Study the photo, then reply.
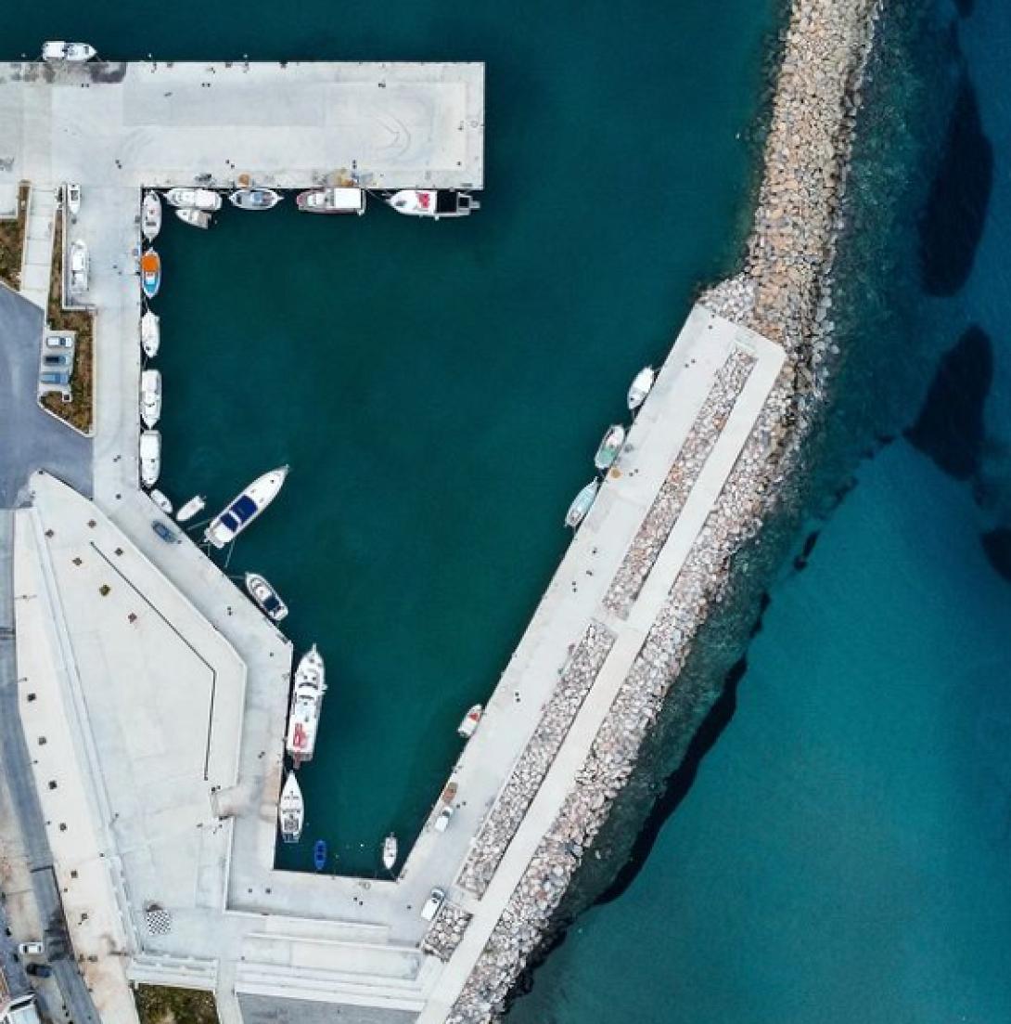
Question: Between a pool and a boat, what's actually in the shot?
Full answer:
Looking from above, you can make out a boat.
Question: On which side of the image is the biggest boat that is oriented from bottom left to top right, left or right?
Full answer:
The biggest boat that is oriented from bottom left to top right appears in the left half of the scene.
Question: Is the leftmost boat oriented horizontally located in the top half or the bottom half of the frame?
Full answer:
You can find the leftmost boat oriented horizontally in the top half.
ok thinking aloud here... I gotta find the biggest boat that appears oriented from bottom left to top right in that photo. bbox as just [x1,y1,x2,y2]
[205,465,289,551]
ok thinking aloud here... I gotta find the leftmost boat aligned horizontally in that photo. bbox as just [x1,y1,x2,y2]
[40,40,97,62]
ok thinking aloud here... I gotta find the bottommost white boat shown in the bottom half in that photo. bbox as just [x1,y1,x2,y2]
[383,834,396,870]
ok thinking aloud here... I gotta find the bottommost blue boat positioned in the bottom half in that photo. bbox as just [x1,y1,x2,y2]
[314,837,327,870]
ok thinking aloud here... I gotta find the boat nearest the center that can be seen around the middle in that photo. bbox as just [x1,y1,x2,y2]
[563,474,599,530]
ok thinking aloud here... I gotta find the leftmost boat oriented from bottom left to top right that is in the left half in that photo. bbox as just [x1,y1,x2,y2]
[177,495,207,522]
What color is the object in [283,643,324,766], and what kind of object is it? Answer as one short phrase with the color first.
white boat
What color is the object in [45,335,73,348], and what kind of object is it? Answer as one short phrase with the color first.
white vehicle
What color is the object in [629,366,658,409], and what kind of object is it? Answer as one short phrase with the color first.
white boat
